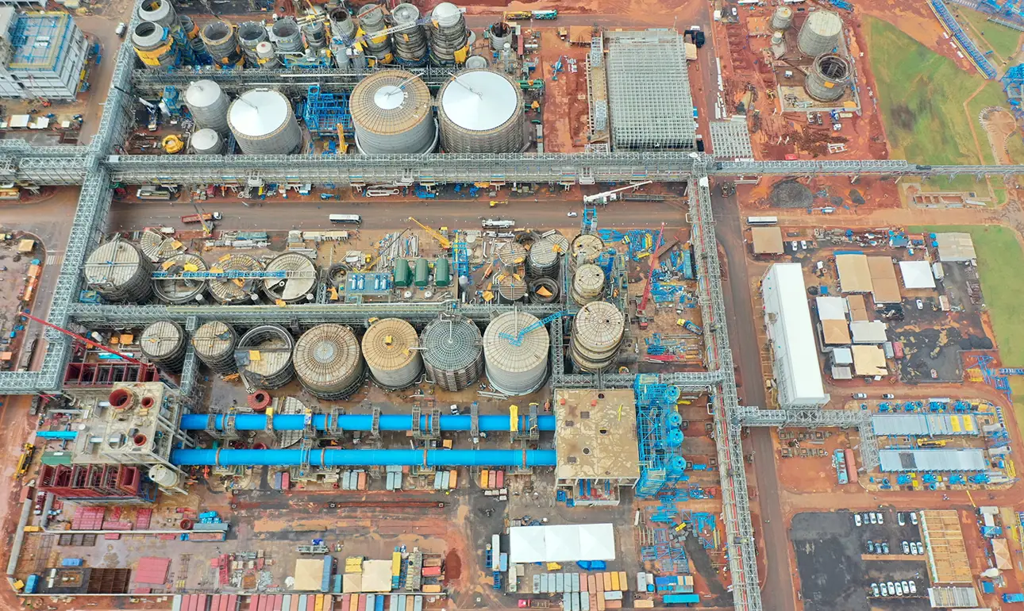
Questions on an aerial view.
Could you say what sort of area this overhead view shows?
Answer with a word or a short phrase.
industrial area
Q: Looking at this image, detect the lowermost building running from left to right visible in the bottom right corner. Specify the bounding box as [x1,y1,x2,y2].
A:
[924,588,977,609]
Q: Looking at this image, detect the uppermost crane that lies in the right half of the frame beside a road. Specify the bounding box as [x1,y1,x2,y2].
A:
[582,182,652,206]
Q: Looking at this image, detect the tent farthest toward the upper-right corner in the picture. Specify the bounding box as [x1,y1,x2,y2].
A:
[895,262,935,292]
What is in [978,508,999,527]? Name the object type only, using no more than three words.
building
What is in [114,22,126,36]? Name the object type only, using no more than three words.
vehicle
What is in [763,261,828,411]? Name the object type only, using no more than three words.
building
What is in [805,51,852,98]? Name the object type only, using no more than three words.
storage tank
